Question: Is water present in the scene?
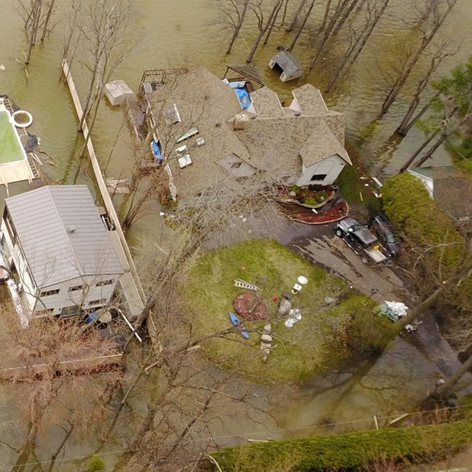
Yes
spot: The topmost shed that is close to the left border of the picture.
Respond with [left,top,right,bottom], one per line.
[0,183,127,315]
